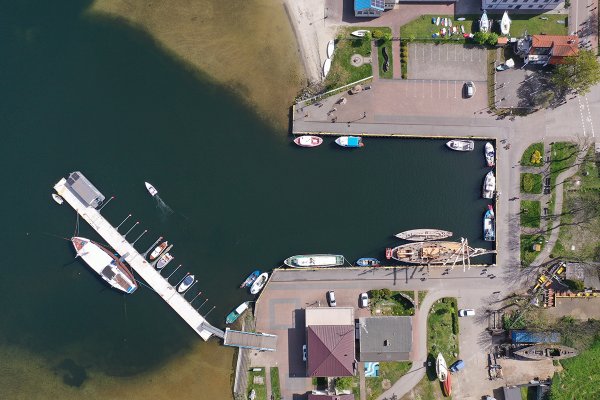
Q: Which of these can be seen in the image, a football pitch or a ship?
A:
ship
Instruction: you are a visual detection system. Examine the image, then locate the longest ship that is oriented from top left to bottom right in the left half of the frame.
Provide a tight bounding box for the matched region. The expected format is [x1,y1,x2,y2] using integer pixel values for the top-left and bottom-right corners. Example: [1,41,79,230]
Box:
[59,217,156,295]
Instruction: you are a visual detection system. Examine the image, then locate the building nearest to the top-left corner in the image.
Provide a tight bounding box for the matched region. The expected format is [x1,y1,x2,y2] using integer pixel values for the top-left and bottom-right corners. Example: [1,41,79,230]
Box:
[63,173,104,209]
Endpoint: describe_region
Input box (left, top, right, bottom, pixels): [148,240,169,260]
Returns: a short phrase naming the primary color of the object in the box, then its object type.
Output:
white boat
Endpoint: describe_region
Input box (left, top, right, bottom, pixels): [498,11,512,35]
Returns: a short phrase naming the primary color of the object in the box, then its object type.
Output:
white boat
